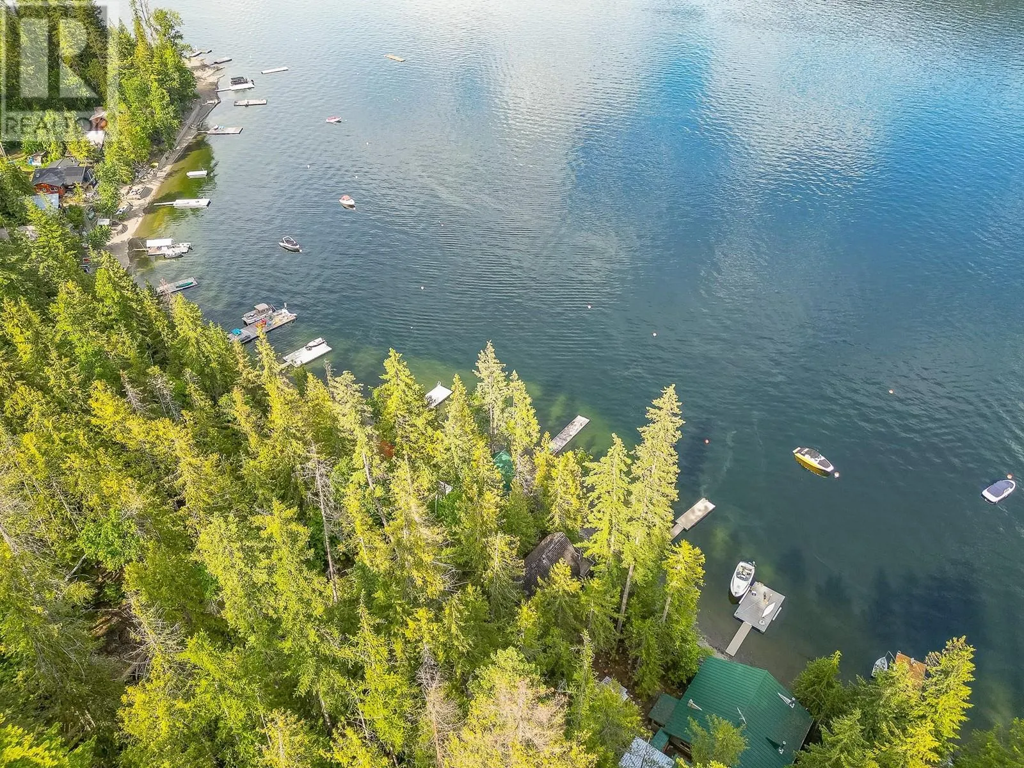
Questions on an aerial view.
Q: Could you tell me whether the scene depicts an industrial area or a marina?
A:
marina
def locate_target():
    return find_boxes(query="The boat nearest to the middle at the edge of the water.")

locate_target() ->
[307,335,327,348]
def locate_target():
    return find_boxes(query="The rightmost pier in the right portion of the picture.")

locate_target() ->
[888,651,929,687]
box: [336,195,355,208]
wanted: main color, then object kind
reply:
white boat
